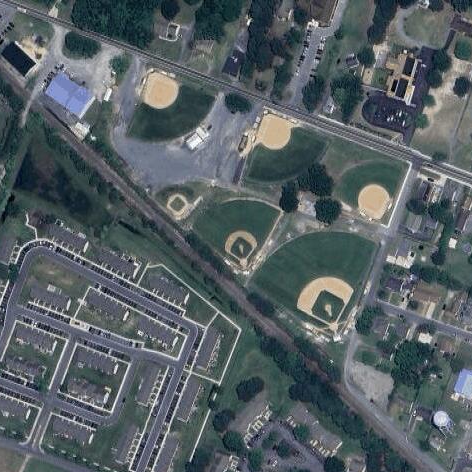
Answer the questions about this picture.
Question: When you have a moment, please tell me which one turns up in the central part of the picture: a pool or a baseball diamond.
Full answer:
What appears in the central part of the picture is a baseball diamond.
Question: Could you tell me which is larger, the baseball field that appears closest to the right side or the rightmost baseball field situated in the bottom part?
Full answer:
The rightmost baseball field situated in the bottom part takes up more space than the baseball field that appears closest to the right side.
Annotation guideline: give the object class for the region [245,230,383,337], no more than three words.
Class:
baseball field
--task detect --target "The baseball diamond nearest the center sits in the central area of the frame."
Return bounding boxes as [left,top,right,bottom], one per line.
[194,196,281,269]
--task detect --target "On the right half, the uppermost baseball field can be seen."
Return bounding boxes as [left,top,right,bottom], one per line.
[246,108,330,186]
